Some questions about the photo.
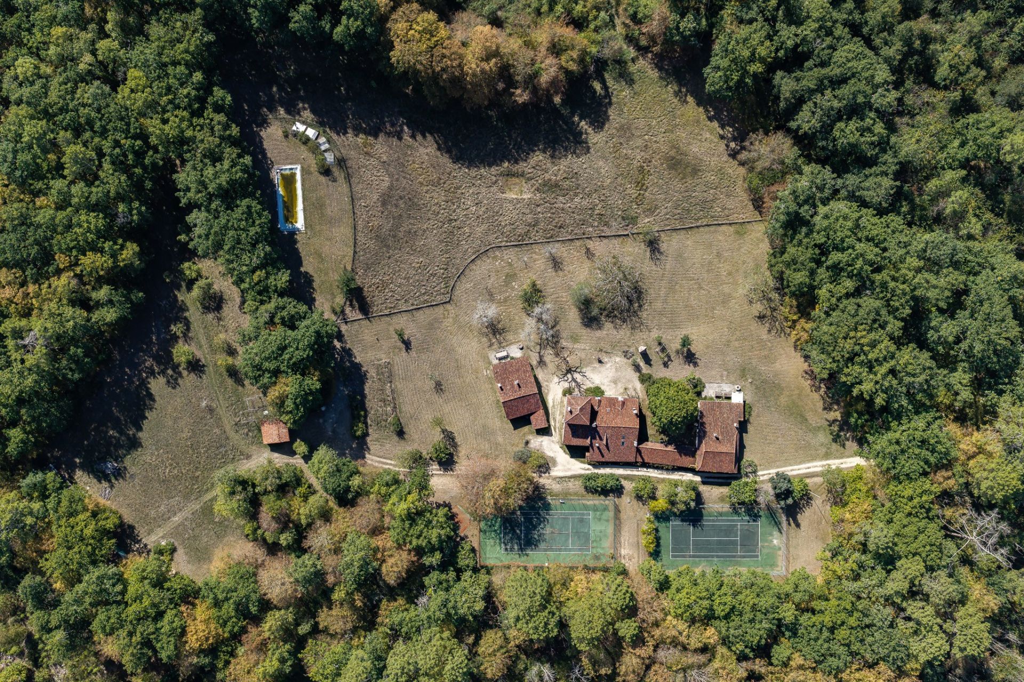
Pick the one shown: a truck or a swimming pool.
swimming pool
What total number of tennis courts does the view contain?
two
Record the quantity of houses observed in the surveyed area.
three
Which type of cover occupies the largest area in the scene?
trees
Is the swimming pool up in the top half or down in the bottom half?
top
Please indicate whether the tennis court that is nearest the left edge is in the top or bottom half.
bottom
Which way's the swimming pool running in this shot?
vertically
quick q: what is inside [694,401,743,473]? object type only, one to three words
house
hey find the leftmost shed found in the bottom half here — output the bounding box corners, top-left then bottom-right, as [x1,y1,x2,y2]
[261,421,292,444]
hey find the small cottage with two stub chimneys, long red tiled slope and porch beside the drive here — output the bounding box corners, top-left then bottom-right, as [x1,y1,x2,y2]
[493,357,548,429]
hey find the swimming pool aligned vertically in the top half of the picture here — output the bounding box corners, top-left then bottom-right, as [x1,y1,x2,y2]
[274,164,304,232]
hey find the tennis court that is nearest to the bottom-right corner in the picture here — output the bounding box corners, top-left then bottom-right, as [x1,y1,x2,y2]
[648,505,783,572]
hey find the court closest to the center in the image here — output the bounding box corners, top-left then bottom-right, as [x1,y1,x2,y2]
[480,499,612,565]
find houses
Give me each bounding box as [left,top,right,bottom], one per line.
[493,357,548,429]
[694,401,743,473]
[563,395,639,462]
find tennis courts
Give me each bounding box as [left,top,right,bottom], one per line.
[480,499,612,565]
[648,505,783,572]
